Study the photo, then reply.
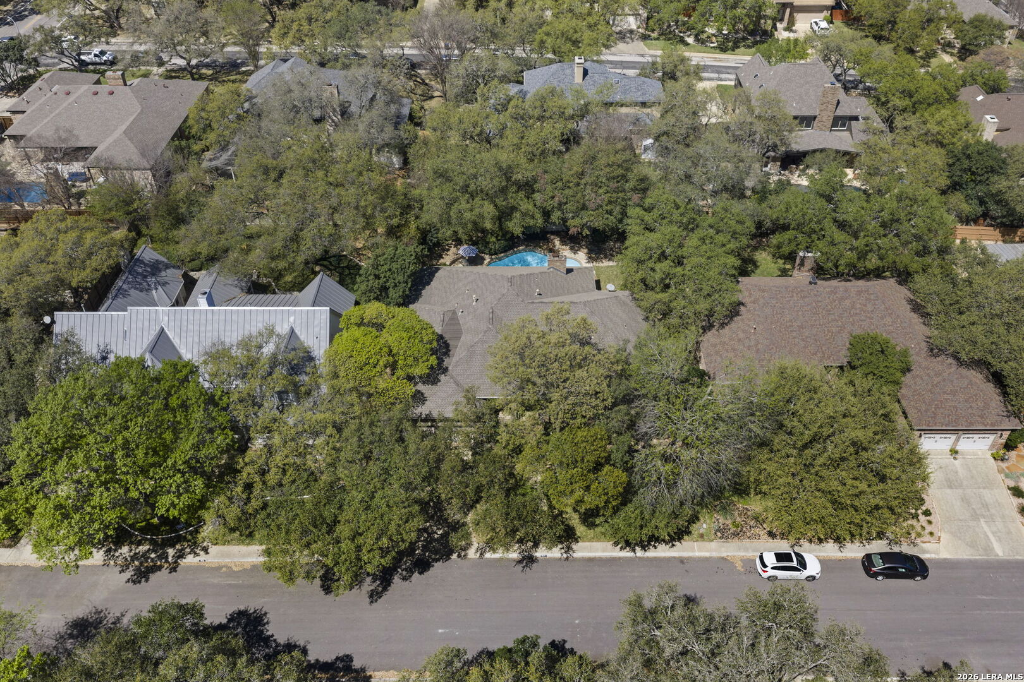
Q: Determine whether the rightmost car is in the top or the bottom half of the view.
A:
bottom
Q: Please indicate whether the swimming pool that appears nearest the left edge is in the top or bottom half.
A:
top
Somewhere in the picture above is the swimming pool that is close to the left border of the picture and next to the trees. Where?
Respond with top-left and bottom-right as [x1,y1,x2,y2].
[0,181,50,203]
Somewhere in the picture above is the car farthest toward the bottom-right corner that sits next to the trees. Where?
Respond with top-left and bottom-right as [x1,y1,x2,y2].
[861,548,932,581]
